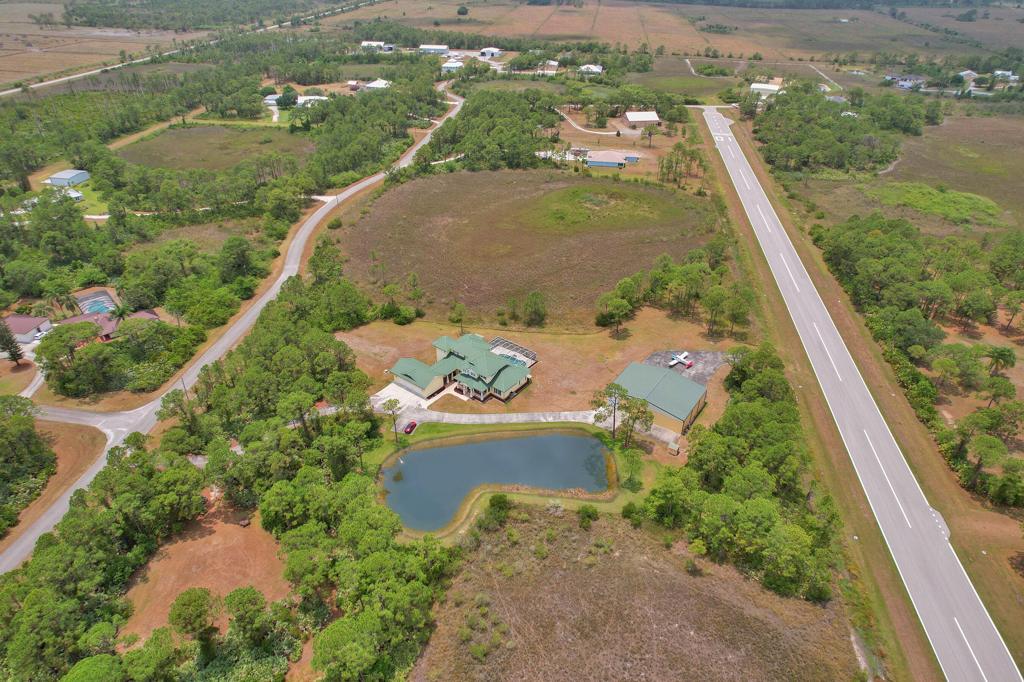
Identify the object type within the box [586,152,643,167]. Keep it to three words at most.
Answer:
house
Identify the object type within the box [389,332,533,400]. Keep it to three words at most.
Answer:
house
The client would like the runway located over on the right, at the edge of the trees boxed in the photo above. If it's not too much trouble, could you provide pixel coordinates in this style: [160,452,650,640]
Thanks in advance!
[703,103,1024,682]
